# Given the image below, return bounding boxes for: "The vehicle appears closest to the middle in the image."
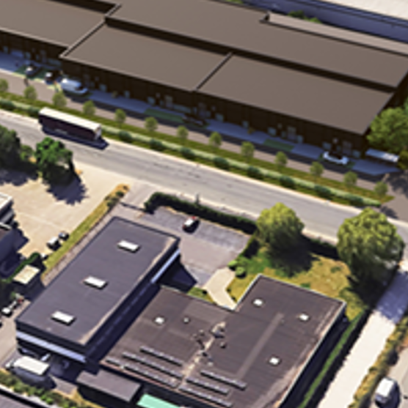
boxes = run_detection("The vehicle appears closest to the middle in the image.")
[180,211,203,229]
